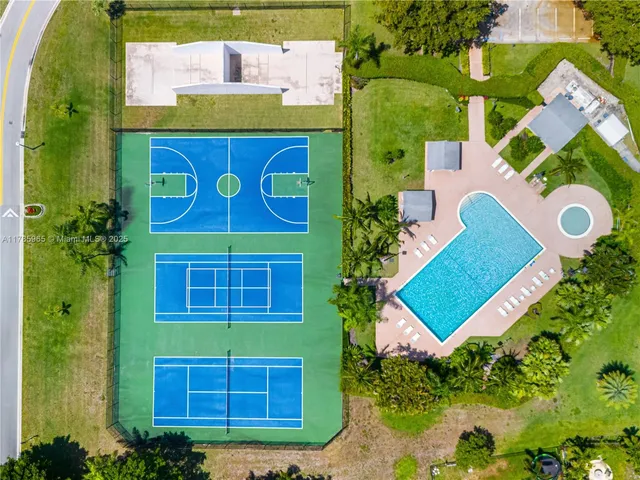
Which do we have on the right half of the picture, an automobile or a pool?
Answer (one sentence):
Visible on the right half of the picture is a pool.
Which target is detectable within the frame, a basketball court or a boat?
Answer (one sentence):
It is a basketball court that can be seen here.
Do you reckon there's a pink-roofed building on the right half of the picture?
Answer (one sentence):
No, the scene shows no pink-roofed building on the right half of the picture.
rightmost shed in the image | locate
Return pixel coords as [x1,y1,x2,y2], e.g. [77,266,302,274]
[591,114,628,148]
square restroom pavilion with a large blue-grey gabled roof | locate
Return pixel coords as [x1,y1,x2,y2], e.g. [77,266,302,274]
[524,92,589,154]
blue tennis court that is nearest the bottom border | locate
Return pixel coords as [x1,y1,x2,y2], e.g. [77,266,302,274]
[152,356,303,429]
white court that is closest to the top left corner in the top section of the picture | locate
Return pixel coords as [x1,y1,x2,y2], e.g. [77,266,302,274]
[126,39,342,106]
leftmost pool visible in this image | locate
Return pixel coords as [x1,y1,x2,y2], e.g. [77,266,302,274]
[395,191,545,343]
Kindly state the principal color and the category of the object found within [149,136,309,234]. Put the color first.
blue basketball court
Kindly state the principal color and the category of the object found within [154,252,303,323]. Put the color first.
blue tennis court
